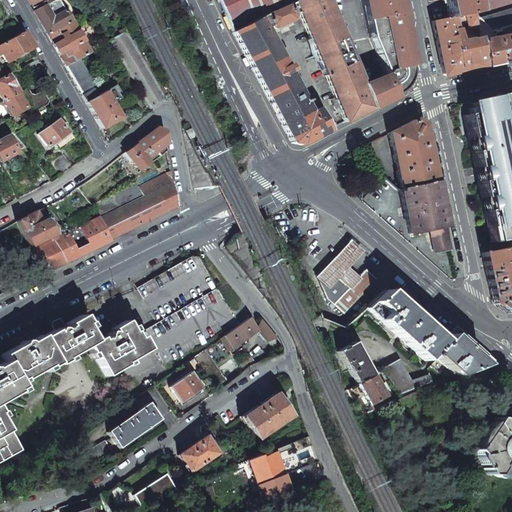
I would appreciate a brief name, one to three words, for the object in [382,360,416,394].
shed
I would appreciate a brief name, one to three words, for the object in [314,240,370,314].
building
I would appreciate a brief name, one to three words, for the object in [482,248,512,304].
house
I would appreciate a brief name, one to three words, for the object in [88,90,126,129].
house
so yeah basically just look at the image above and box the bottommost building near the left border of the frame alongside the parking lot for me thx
[0,314,158,463]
